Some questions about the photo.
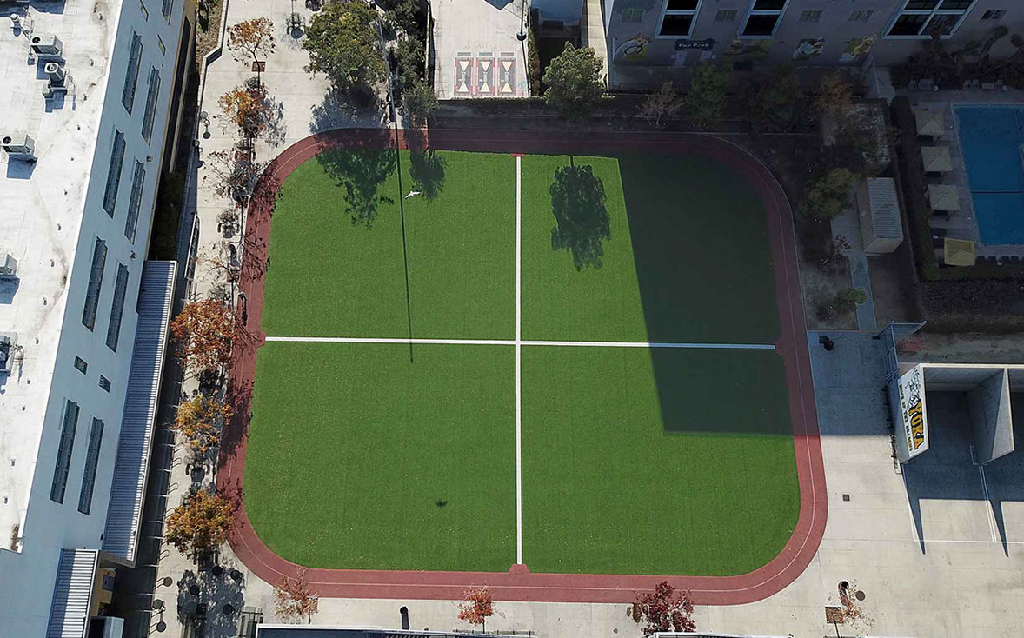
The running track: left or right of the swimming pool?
to its left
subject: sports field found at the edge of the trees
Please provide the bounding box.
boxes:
[242,150,799,574]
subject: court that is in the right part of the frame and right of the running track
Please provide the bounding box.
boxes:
[893,364,1024,542]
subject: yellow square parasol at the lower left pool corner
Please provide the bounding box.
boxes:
[940,238,977,270]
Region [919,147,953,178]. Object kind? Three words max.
umbrella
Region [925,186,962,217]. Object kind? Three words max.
umbrella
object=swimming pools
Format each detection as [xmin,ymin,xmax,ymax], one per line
[949,103,1024,249]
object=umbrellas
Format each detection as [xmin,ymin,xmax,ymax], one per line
[912,109,947,138]
[925,186,962,217]
[940,238,977,270]
[919,147,953,178]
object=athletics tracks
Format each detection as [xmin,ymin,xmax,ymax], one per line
[212,127,827,605]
